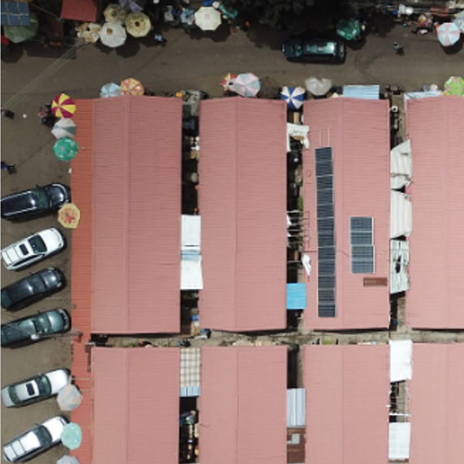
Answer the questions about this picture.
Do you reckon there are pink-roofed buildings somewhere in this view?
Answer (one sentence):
Yes, a pink-roofed building is visible in the scene.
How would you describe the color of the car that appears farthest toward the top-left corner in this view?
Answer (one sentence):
From above, the car that appears farthest toward the top-left corner appears black.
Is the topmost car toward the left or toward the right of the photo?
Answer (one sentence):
The topmost car appears in the right half of the scene.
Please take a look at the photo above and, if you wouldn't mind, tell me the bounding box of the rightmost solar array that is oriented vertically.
[350,216,374,274]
